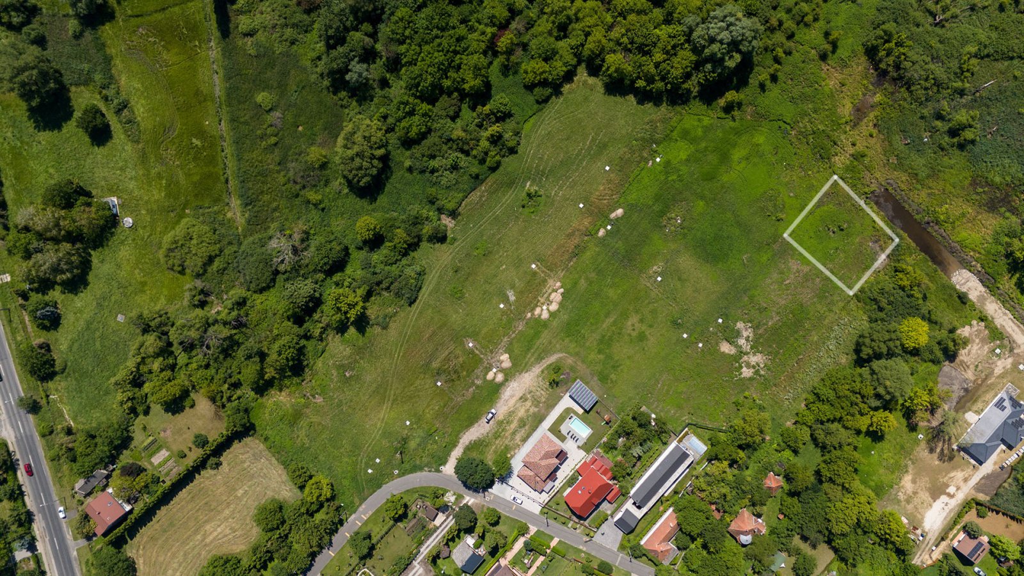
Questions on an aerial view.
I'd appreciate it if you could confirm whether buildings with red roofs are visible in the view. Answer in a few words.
Yes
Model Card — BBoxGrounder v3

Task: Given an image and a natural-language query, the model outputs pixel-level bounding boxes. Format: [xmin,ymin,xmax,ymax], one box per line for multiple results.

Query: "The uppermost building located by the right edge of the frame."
[953,384,1024,467]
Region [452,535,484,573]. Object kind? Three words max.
house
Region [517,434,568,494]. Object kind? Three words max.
house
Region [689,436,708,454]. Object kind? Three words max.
swimming pool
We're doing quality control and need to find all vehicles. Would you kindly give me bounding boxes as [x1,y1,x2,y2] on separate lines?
[25,463,33,476]
[485,409,496,423]
[510,495,523,504]
[973,565,985,576]
[59,506,67,519]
